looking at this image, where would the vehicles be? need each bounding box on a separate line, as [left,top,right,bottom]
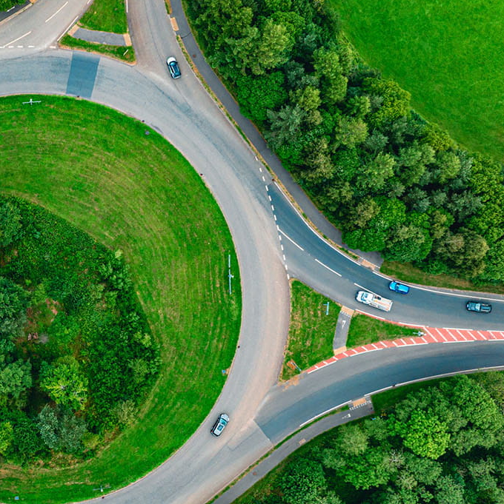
[387,281,410,295]
[166,57,181,80]
[211,412,229,438]
[354,290,393,312]
[465,301,492,313]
